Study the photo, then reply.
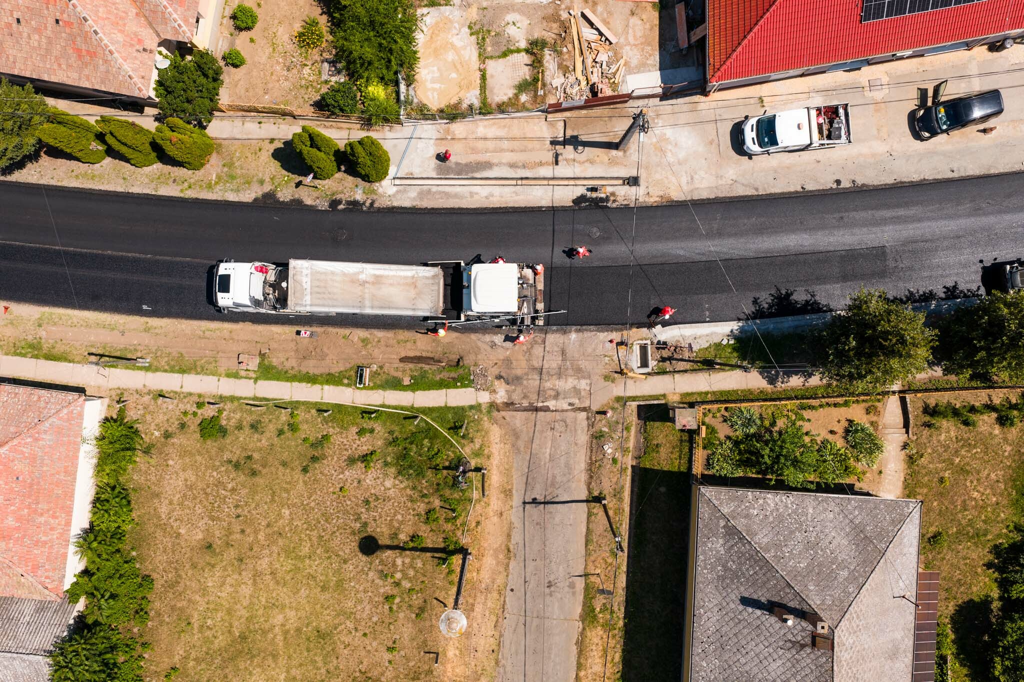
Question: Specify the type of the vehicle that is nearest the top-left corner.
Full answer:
The vehicle that is nearest the top-left corner is a truck.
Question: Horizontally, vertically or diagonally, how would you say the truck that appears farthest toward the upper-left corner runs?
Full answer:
In this picture, the truck that appears farthest toward the upper-left corner is oriented horizontally.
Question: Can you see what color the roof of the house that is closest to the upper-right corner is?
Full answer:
The roof over the house that is closest to the upper-right corner appears red.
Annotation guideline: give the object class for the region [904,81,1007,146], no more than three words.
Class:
van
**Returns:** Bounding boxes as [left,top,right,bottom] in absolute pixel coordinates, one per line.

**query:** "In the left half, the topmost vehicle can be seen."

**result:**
[214,255,448,317]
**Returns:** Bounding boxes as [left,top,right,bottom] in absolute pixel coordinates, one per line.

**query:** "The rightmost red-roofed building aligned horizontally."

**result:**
[700,0,1024,94]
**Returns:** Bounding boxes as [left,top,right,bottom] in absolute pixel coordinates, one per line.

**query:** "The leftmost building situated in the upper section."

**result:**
[0,0,216,99]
